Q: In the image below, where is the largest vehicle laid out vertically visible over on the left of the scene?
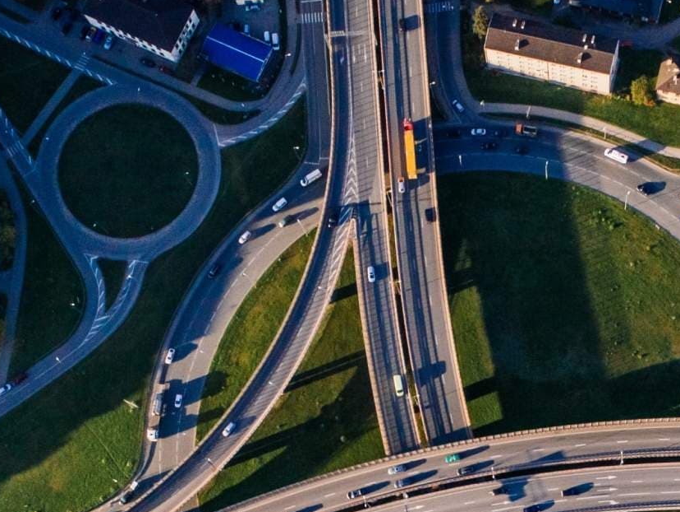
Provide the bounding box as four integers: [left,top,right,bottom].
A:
[146,384,165,443]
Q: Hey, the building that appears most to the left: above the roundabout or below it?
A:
above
